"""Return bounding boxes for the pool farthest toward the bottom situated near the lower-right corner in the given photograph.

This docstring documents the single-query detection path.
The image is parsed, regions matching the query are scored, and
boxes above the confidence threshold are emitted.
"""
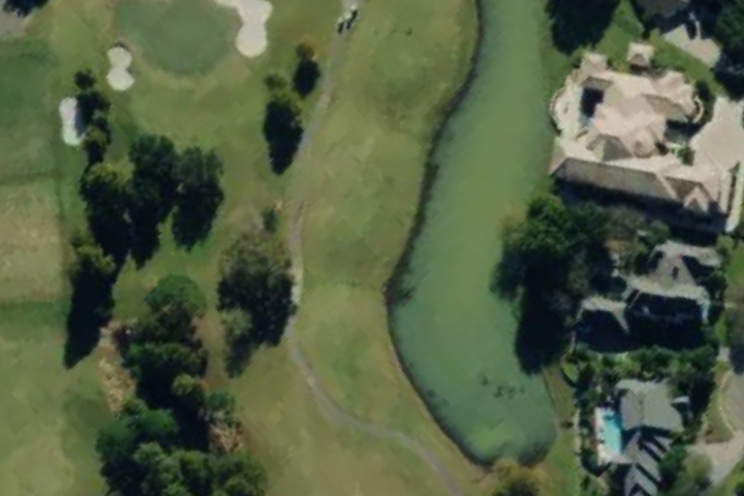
[601,411,623,453]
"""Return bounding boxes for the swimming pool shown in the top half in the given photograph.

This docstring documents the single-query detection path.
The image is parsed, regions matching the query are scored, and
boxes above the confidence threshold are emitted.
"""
[580,89,604,127]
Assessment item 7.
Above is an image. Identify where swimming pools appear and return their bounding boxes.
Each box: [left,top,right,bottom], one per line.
[601,411,623,453]
[580,89,604,127]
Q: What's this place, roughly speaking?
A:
golf course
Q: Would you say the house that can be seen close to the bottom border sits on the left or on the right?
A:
right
